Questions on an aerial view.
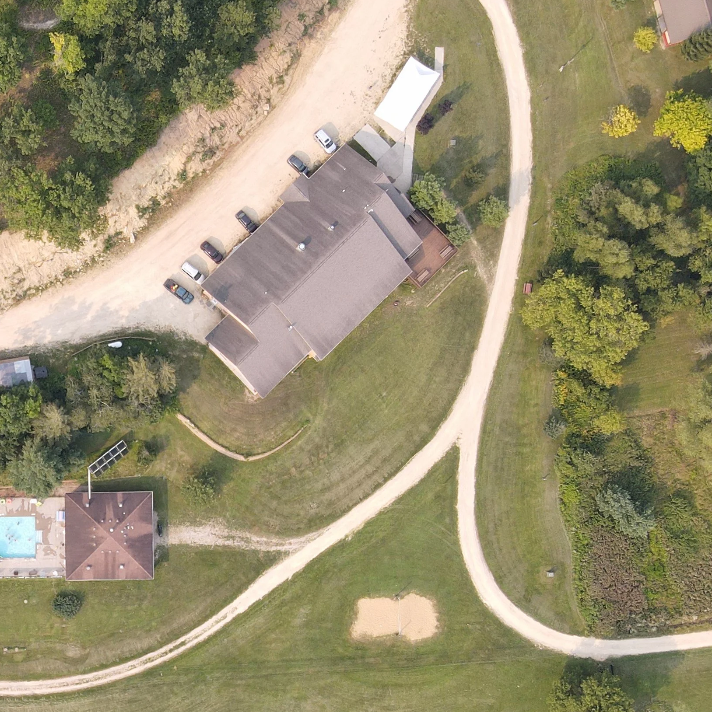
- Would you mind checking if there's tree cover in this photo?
Yes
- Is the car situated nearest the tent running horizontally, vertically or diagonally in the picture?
diagonally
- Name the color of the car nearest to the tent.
white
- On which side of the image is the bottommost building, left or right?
left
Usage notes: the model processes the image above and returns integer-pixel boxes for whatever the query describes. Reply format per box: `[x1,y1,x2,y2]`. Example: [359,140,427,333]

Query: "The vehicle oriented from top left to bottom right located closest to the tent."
[313,128,337,155]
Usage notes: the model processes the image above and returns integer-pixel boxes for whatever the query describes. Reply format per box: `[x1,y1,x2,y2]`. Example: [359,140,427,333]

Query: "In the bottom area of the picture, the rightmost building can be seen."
[65,490,155,582]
